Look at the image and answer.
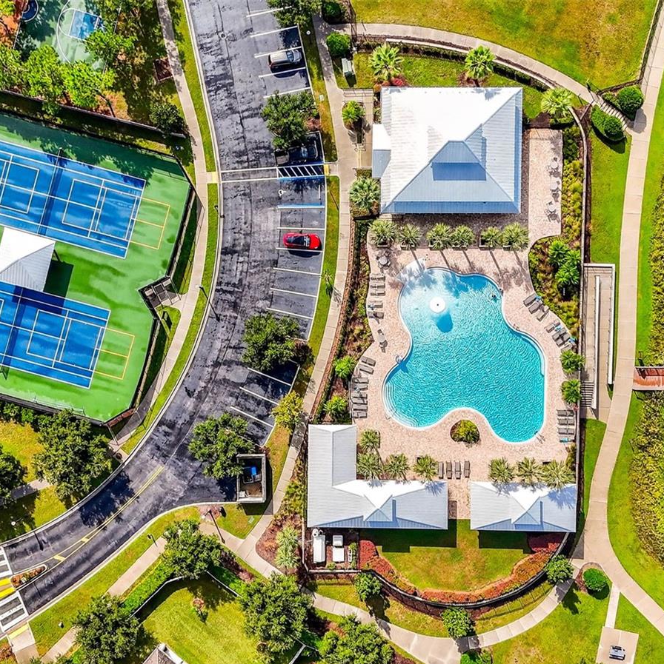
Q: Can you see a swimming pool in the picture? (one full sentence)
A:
Yes, a swimming pool appears in the view.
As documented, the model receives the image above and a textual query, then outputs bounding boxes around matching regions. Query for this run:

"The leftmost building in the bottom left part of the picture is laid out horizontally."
[143,642,192,664]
